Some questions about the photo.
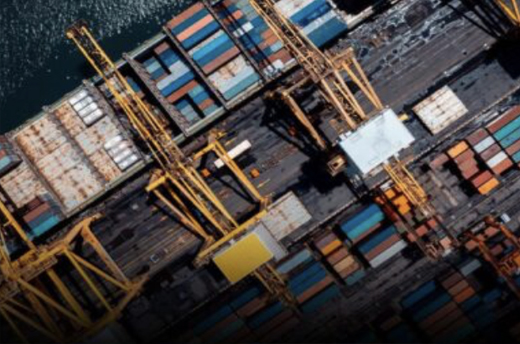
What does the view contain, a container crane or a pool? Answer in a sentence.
Looking from above, you can make out a container crane.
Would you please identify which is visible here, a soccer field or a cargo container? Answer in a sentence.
I can see a cargo container in this picture.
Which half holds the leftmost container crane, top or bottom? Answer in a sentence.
Seen from above, the leftmost container crane lies in the bottom half of the view.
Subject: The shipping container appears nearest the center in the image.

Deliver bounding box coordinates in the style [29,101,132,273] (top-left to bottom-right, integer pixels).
[219,137,256,166]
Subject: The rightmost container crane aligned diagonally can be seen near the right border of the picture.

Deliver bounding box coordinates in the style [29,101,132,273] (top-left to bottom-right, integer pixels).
[448,206,520,307]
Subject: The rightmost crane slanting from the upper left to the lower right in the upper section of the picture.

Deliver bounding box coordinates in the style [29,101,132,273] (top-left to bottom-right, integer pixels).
[249,0,435,217]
